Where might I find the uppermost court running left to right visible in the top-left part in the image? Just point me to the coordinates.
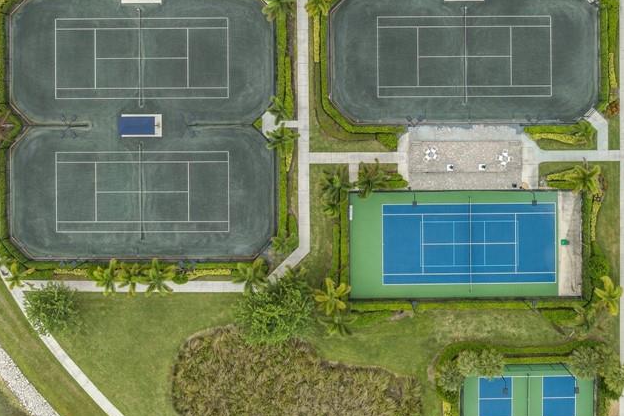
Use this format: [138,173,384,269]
[11,0,273,125]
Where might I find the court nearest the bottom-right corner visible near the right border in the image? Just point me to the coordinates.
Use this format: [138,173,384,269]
[461,363,594,416]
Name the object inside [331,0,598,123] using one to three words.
tennis court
